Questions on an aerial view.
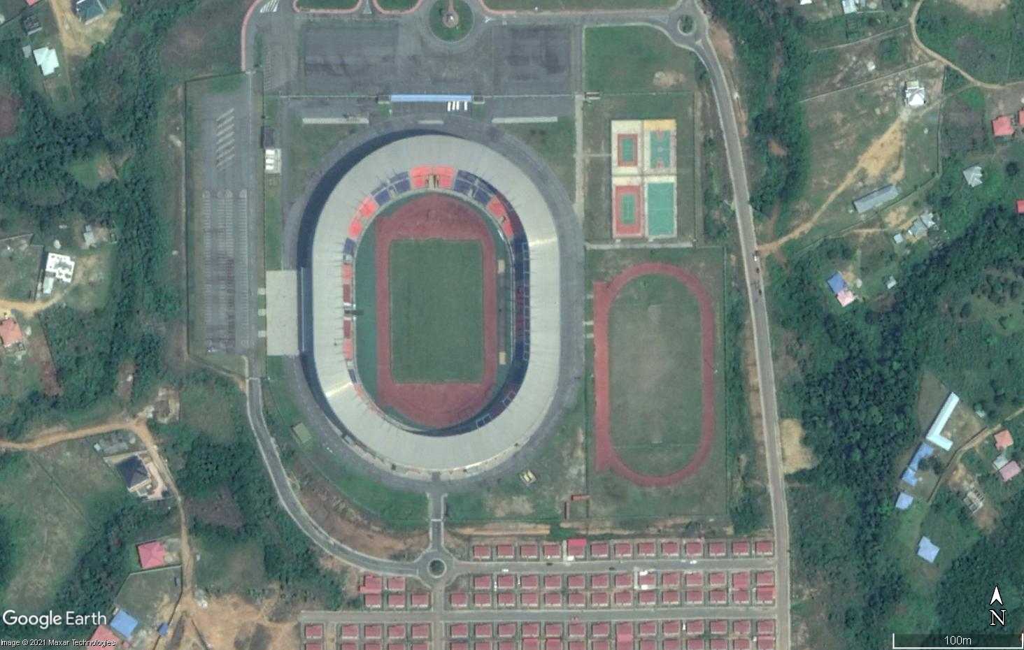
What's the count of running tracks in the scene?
two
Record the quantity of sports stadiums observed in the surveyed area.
one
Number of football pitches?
two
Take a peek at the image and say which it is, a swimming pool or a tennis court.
tennis court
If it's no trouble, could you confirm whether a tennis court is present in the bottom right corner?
No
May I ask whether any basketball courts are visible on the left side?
No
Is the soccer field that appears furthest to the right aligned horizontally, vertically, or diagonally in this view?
vertically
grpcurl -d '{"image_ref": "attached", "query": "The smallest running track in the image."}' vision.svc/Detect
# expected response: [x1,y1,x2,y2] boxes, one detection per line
[593,262,715,487]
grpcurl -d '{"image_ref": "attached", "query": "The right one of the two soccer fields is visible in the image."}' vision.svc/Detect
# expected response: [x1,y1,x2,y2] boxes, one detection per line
[610,275,703,476]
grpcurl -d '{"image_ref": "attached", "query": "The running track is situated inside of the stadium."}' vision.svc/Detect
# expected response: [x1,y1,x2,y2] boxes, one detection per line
[356,191,514,430]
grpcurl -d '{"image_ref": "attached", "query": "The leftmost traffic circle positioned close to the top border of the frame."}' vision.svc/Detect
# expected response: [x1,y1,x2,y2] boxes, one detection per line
[421,0,480,47]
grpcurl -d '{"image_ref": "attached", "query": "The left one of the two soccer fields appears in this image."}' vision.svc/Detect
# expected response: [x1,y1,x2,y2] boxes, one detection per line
[389,239,484,384]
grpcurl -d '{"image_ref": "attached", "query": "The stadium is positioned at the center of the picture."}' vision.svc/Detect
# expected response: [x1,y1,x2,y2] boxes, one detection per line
[301,134,561,482]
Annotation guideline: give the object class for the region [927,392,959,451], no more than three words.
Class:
building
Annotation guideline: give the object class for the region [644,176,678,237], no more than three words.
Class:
sports court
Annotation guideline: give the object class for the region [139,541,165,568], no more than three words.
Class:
house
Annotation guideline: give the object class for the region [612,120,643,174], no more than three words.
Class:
tennis court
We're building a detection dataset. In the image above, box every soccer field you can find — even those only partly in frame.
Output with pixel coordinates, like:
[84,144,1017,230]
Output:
[610,275,703,476]
[389,239,484,384]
